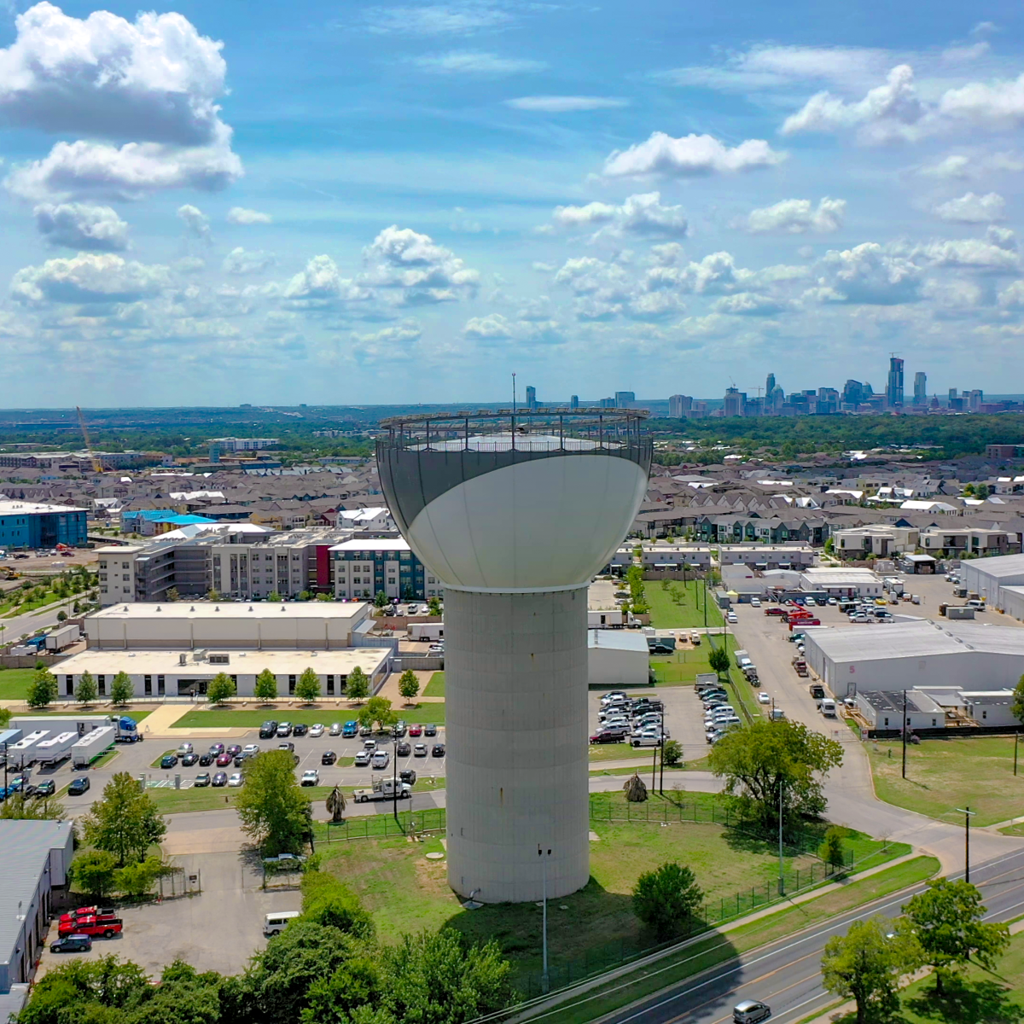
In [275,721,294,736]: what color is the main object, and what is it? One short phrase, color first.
gray vehicle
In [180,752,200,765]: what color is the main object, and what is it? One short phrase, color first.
gray vehicle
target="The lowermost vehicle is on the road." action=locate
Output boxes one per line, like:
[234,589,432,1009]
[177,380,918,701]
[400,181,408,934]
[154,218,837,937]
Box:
[728,994,775,1022]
